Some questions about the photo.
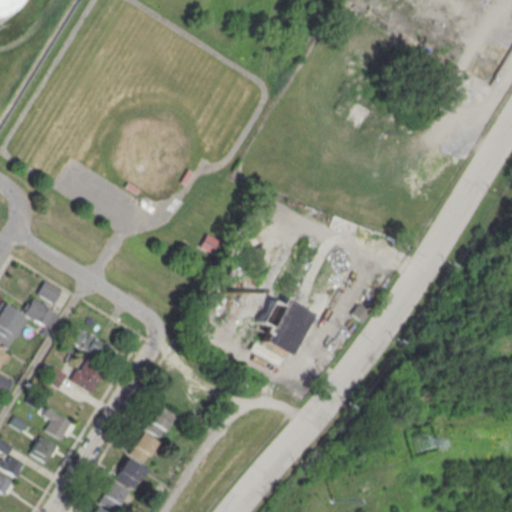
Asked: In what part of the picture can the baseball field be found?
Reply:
top left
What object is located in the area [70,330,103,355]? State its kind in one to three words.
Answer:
house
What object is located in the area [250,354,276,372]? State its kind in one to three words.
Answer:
vehicle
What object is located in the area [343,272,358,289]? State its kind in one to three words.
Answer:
work vehicle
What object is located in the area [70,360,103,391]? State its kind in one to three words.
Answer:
house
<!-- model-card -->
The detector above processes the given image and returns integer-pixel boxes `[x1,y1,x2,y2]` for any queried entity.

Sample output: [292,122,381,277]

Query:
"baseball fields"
[8,0,262,201]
